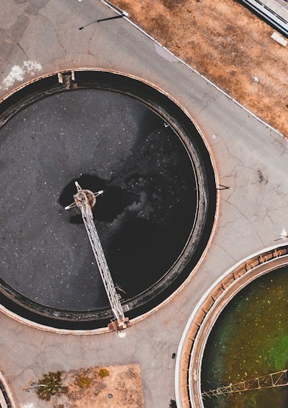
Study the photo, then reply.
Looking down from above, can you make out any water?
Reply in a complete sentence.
Yes, some water is visible.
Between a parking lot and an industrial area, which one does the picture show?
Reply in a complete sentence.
What you see here is an industrial area.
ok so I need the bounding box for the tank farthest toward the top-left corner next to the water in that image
[0,67,221,334]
